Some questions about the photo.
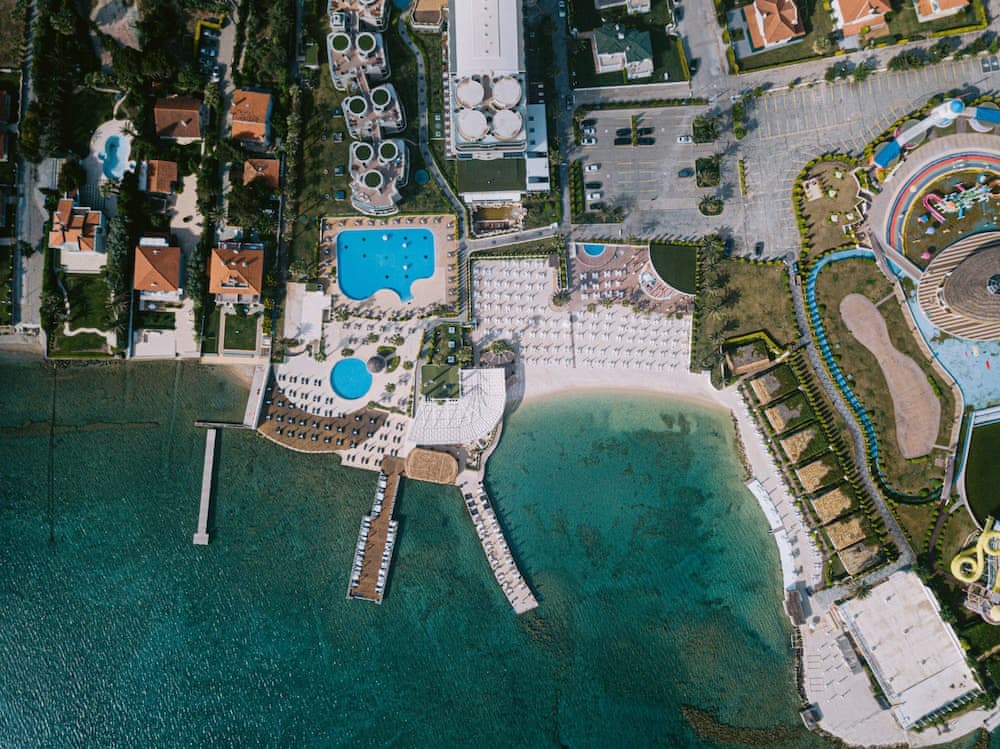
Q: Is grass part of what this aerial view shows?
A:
Yes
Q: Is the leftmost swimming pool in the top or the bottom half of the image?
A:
top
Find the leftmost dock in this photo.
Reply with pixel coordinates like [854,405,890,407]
[193,429,216,545]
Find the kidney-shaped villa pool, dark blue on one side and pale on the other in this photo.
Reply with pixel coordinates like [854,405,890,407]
[101,133,129,178]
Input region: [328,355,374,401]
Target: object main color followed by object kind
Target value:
blue swimming pool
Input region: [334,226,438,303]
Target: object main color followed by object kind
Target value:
blue swimming pool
